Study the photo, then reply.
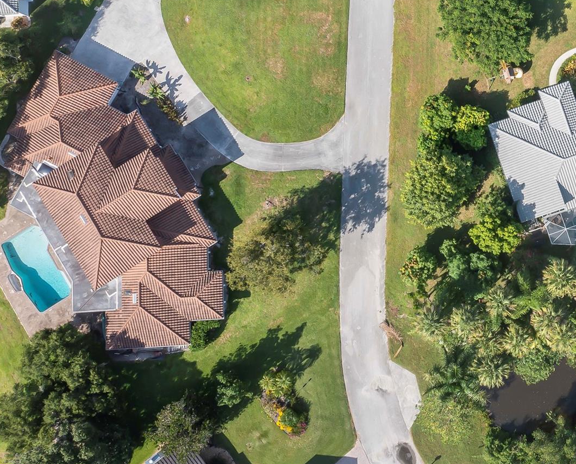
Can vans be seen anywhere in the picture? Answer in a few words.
No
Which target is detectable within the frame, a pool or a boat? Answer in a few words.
pool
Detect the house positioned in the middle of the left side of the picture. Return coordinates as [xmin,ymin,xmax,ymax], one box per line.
[2,49,229,351]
